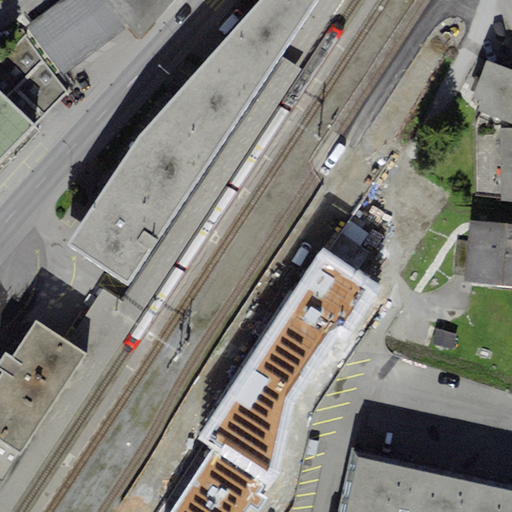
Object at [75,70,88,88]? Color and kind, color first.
black vehicle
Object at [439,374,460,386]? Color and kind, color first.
black vehicle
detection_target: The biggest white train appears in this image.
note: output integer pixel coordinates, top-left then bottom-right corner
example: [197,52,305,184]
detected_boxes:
[128,24,343,344]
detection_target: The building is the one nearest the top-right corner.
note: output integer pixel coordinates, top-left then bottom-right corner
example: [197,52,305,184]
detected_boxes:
[471,61,512,132]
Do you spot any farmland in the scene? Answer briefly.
No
